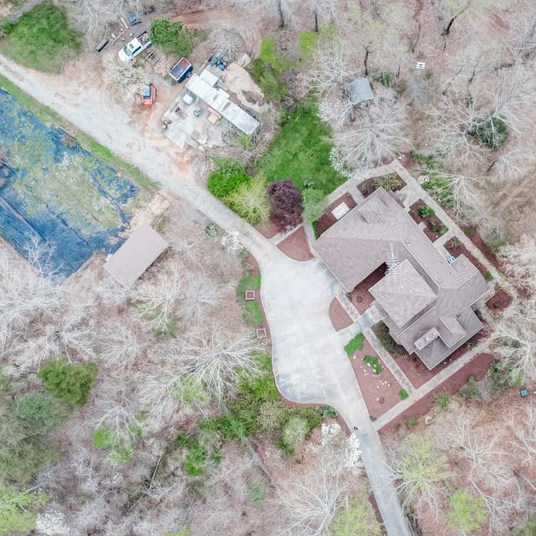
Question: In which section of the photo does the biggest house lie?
right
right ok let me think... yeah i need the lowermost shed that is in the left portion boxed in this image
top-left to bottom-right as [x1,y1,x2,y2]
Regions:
[103,226,170,287]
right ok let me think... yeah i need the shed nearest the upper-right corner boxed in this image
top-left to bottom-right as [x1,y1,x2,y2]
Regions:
[349,79,373,108]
